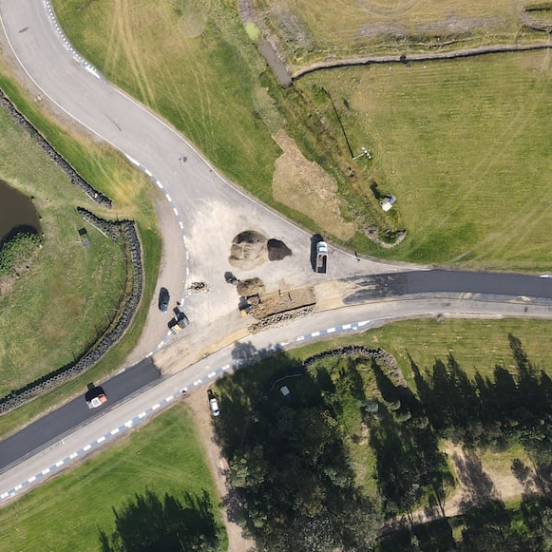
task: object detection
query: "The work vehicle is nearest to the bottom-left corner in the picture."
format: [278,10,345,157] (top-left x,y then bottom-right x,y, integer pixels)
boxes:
[87,392,107,406]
